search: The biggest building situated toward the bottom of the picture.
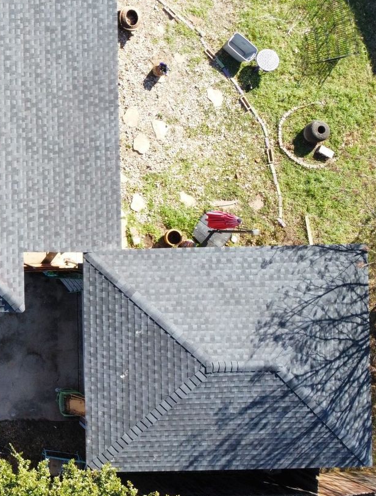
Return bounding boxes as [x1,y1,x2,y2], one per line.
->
[74,247,373,471]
